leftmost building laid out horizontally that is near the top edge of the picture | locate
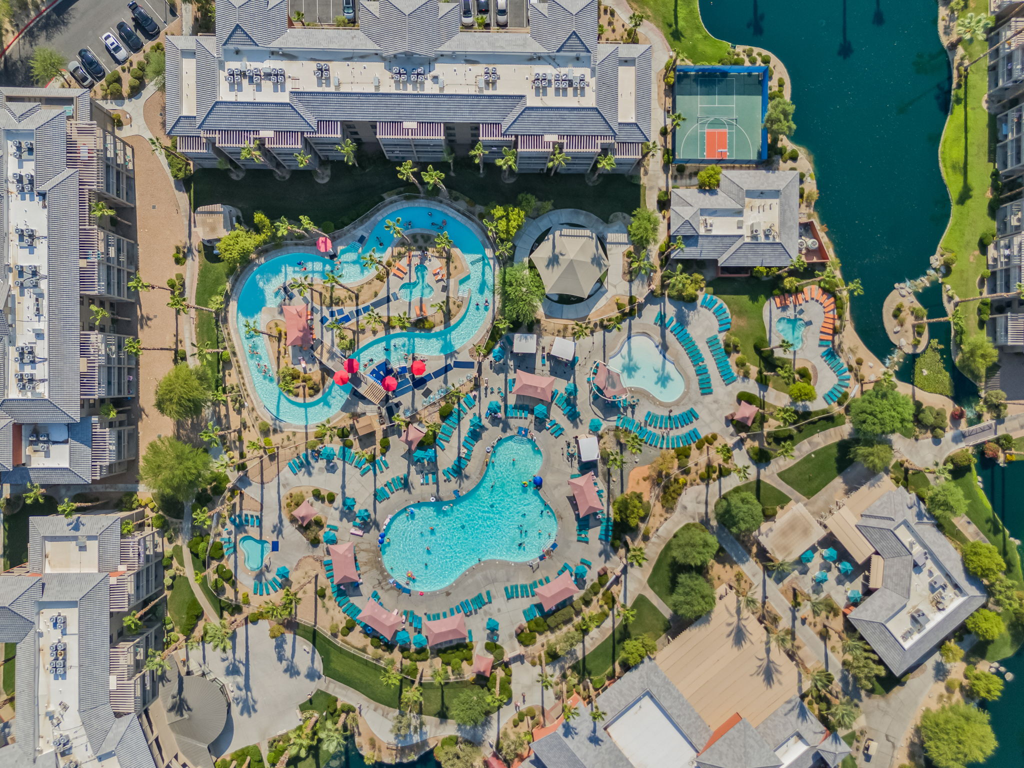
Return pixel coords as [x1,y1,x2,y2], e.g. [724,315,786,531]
[164,0,652,175]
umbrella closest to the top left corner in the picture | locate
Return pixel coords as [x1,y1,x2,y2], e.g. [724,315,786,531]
[317,238,333,253]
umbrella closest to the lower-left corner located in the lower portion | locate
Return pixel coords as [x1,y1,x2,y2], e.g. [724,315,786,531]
[276,562,292,579]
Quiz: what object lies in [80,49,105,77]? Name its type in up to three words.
car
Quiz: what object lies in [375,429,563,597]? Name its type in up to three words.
swimming pool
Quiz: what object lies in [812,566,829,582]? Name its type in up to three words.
umbrella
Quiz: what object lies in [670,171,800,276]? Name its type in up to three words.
building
